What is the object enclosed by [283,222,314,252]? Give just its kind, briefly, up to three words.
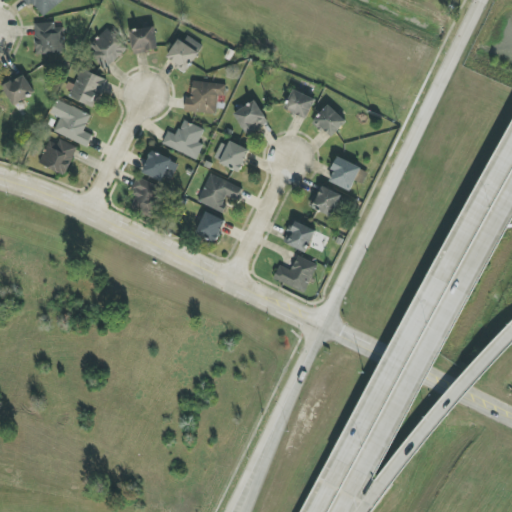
house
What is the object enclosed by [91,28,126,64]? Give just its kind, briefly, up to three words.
house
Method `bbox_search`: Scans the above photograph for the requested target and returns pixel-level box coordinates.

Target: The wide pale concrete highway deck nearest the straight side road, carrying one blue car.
[300,121,512,512]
